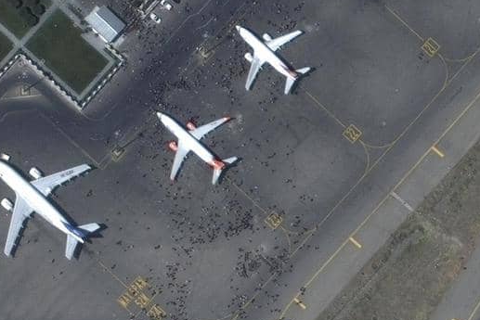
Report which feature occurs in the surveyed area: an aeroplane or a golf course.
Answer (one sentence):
It is an aeroplane that can be seen here.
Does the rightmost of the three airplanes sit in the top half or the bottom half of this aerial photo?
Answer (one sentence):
The rightmost of the three airplanes sits in the top half of the picture.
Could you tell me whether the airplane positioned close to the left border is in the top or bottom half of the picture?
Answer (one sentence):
You can find the airplane positioned close to the left border in the bottom half.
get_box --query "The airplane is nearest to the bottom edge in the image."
[0,160,100,258]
